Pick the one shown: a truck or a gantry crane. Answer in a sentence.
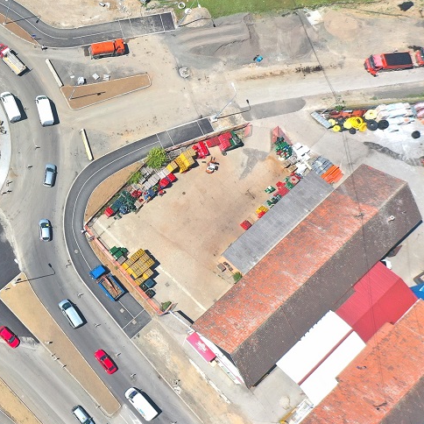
Looking from above, you can make out a truck.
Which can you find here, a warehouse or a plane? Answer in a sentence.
There is a warehouse in the scene.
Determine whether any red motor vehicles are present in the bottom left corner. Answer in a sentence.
Yes, you'll find a red motor vehicle in the bottom left corner.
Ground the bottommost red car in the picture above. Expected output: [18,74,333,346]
[95,347,119,376]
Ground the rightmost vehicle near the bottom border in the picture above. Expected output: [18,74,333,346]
[126,385,161,424]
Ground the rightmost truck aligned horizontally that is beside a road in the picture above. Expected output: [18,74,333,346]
[362,47,420,71]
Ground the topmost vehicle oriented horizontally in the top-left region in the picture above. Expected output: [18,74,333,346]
[85,36,129,61]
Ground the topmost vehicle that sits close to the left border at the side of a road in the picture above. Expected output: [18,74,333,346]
[0,38,28,76]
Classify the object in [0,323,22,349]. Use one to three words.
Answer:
car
